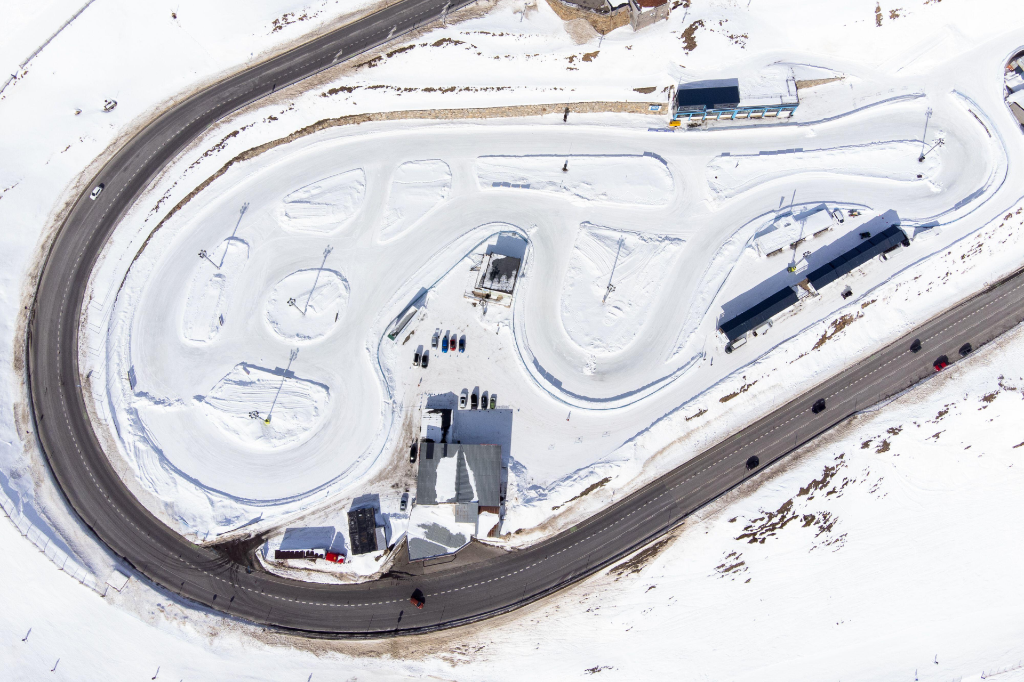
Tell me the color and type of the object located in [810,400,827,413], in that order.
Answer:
black vehicle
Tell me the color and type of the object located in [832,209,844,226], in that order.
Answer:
white vehicle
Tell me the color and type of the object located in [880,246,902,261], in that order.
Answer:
white car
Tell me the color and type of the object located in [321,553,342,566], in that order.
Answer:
red vehicle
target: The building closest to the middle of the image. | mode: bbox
[463,252,520,308]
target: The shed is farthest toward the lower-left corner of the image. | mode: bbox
[348,508,388,555]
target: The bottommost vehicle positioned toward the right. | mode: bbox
[744,457,760,469]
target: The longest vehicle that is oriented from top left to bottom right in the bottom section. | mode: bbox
[409,595,427,610]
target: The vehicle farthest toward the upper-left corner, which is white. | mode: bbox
[90,185,104,199]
